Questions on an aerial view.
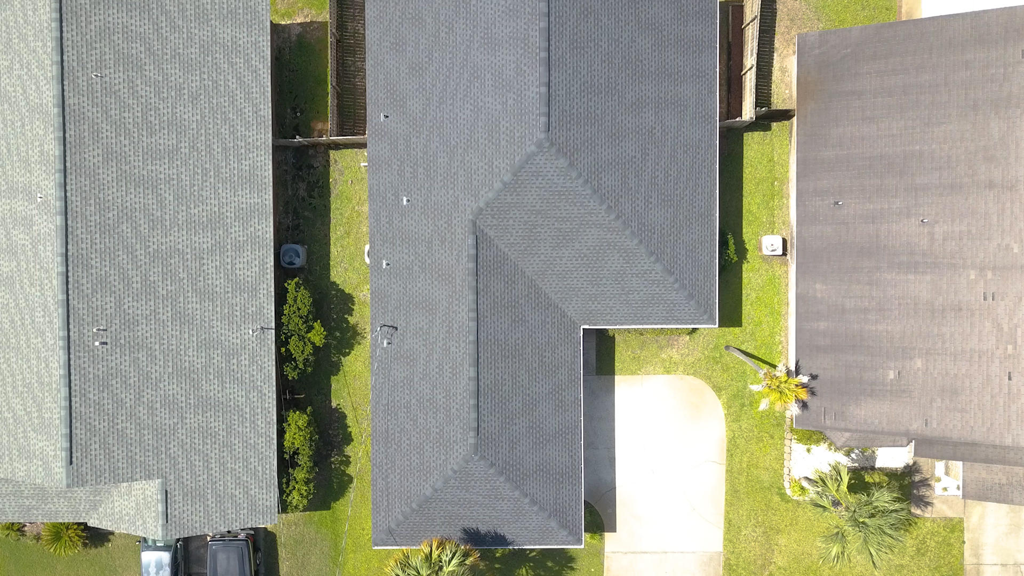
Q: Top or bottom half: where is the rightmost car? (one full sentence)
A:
You can find the rightmost car in the bottom half.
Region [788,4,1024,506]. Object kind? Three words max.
house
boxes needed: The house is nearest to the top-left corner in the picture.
[0,0,281,539]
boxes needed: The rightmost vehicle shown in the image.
[208,525,266,576]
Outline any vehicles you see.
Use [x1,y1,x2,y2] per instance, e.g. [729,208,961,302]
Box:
[208,525,266,576]
[133,533,189,576]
